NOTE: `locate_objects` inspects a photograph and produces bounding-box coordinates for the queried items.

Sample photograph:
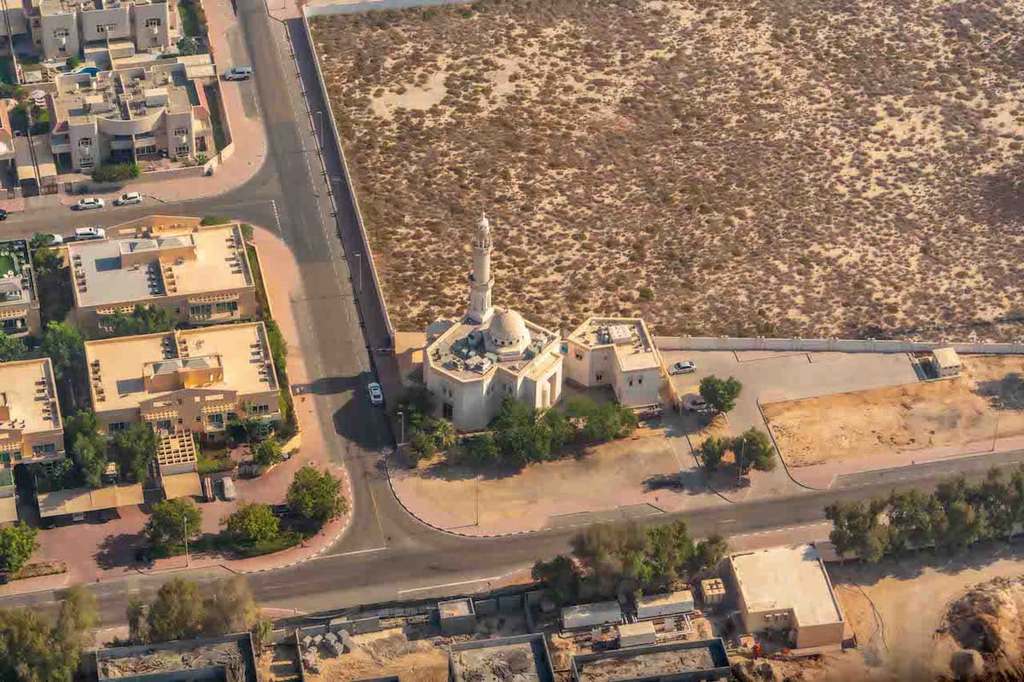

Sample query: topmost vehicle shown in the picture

[225,66,254,81]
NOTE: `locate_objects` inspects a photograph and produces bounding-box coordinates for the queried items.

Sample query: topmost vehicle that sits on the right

[669,362,698,376]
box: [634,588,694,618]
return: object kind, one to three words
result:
building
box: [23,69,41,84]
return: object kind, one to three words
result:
gazebo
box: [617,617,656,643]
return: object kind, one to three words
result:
building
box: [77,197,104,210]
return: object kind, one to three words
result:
vehicle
